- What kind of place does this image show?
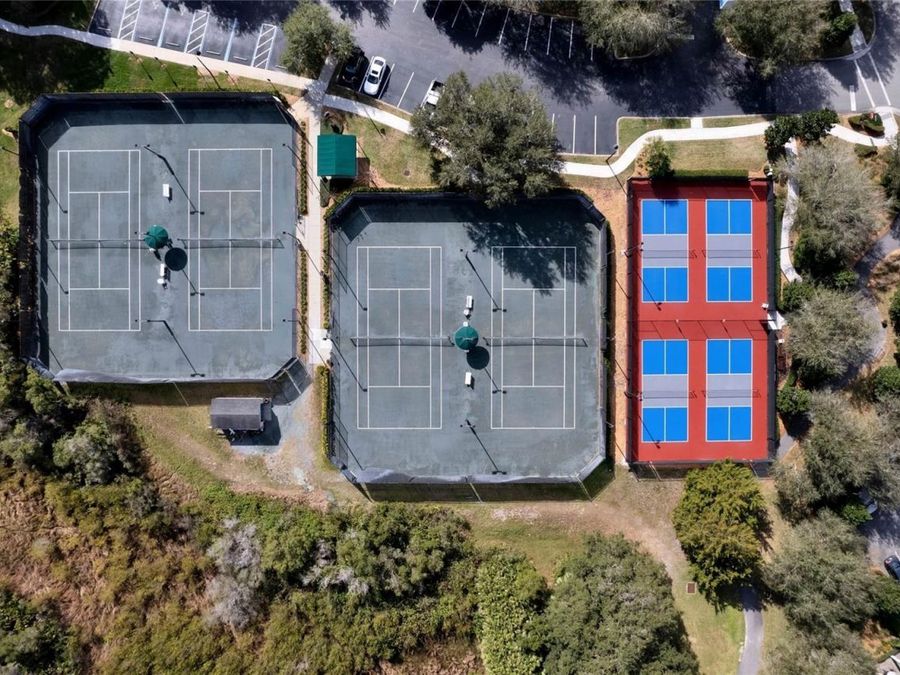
sports ground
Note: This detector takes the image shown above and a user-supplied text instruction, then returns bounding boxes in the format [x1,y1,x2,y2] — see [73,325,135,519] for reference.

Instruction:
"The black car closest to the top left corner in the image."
[338,48,363,89]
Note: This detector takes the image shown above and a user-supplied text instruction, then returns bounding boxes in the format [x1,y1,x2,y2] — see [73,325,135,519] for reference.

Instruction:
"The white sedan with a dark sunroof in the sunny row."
[364,54,388,95]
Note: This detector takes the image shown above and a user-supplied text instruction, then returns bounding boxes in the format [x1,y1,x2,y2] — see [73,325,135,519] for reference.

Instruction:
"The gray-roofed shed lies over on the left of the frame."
[210,398,265,430]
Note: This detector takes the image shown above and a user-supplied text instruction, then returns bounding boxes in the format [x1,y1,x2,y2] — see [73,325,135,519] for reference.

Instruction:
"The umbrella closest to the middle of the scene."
[455,327,477,350]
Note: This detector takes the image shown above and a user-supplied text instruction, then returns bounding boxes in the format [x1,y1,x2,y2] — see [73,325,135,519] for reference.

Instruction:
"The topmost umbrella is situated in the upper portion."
[145,226,168,249]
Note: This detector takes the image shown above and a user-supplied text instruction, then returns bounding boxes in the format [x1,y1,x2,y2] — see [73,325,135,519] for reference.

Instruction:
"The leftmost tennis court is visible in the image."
[33,100,165,378]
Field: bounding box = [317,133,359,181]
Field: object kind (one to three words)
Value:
building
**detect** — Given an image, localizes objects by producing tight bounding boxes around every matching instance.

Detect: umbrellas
[455,327,477,350]
[145,226,168,249]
